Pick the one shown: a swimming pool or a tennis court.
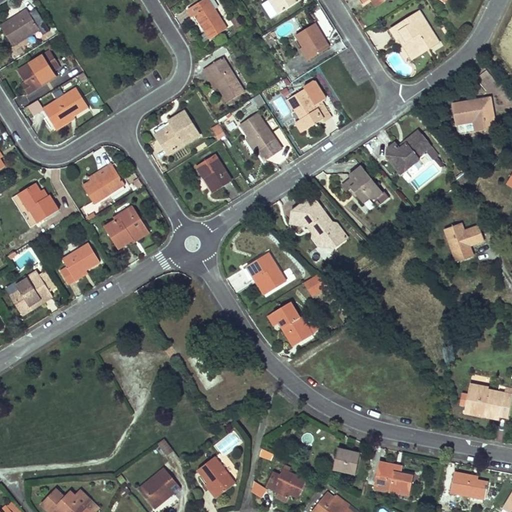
swimming pool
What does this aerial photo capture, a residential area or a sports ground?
residential area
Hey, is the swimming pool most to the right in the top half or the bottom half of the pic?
top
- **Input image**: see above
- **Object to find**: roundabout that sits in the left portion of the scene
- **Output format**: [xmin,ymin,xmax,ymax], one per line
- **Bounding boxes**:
[168,218,218,272]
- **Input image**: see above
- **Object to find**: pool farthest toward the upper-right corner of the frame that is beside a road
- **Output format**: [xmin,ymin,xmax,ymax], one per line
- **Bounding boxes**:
[386,52,416,76]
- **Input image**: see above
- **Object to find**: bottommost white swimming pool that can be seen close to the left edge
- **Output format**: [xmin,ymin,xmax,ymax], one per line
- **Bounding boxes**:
[13,248,42,272]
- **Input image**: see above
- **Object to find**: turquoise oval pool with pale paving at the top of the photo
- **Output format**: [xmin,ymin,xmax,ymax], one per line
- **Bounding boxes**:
[274,18,300,40]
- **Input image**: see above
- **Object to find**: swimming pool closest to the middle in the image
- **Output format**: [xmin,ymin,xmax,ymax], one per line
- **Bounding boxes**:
[268,94,294,124]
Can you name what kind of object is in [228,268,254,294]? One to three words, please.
building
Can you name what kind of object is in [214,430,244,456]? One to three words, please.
swimming pool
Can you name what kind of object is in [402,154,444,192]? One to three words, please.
swimming pool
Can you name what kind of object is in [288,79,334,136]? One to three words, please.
house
